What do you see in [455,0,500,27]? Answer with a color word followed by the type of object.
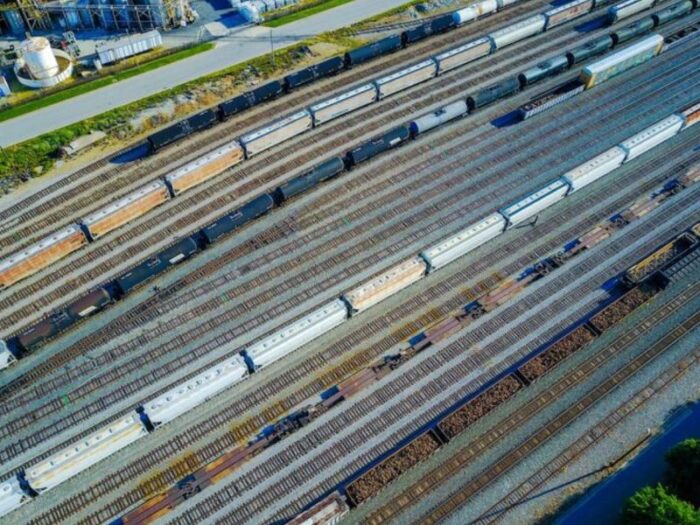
white rail car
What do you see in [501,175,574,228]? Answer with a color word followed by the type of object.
white rail car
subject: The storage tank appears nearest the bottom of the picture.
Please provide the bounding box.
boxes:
[19,31,63,79]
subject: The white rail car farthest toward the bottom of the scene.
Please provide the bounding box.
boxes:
[0,473,32,517]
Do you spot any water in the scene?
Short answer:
No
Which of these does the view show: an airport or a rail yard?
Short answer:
rail yard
